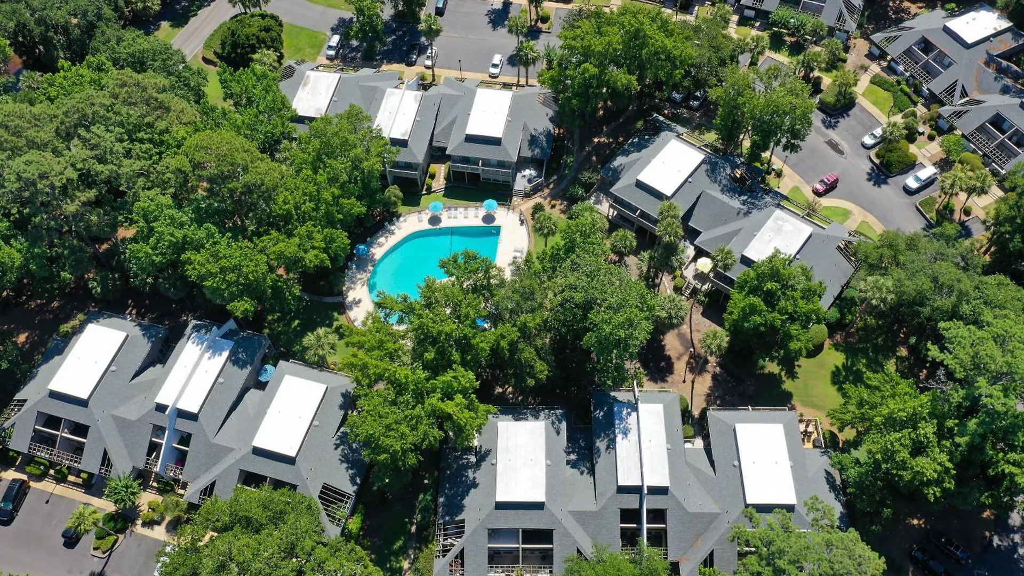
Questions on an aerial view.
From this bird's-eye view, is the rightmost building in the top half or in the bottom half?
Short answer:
top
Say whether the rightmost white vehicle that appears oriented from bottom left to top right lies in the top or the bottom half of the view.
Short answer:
top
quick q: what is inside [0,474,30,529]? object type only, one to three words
car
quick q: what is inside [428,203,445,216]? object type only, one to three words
umbrella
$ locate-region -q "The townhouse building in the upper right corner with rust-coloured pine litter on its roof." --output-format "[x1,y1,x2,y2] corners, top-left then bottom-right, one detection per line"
[870,5,1024,176]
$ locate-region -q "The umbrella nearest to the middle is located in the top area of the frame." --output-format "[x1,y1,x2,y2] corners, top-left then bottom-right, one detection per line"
[482,201,499,214]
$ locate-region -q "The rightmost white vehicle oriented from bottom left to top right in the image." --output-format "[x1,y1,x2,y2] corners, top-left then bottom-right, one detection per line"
[902,161,941,191]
